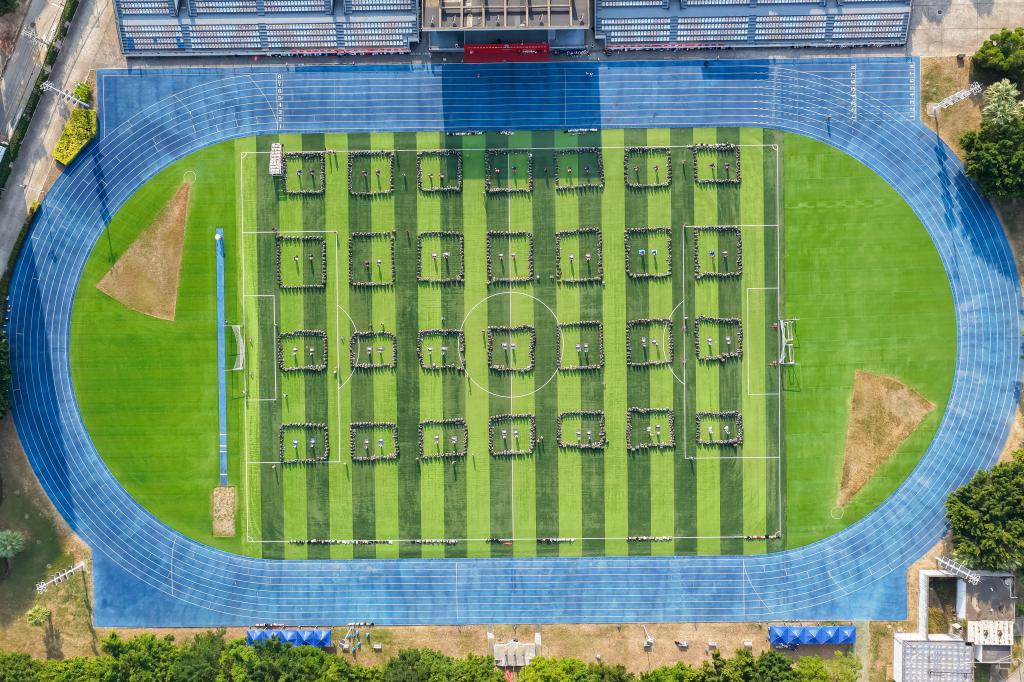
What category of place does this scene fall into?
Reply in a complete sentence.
This looks like a sports ground.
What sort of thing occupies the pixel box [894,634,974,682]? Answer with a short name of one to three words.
building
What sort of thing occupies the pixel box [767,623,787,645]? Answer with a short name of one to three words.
tent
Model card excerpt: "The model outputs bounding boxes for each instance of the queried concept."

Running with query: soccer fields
[235,128,787,561]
